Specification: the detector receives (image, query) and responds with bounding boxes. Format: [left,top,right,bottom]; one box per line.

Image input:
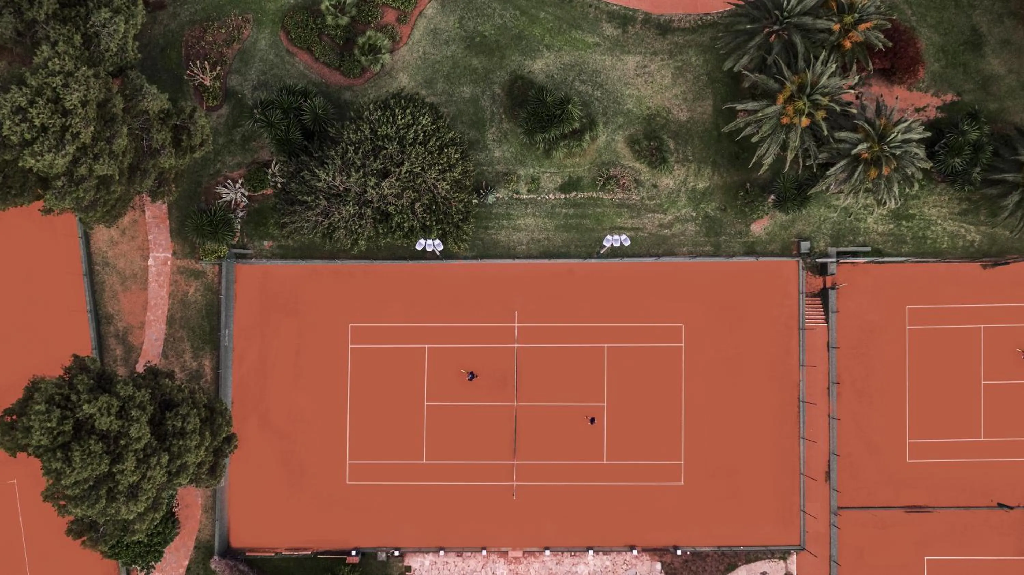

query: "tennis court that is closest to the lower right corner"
[837,508,1024,575]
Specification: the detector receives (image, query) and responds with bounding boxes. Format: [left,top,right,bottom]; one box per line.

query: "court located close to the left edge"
[0,208,121,575]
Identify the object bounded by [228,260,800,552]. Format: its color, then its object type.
red tennis court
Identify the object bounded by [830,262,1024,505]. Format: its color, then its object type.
red tennis court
